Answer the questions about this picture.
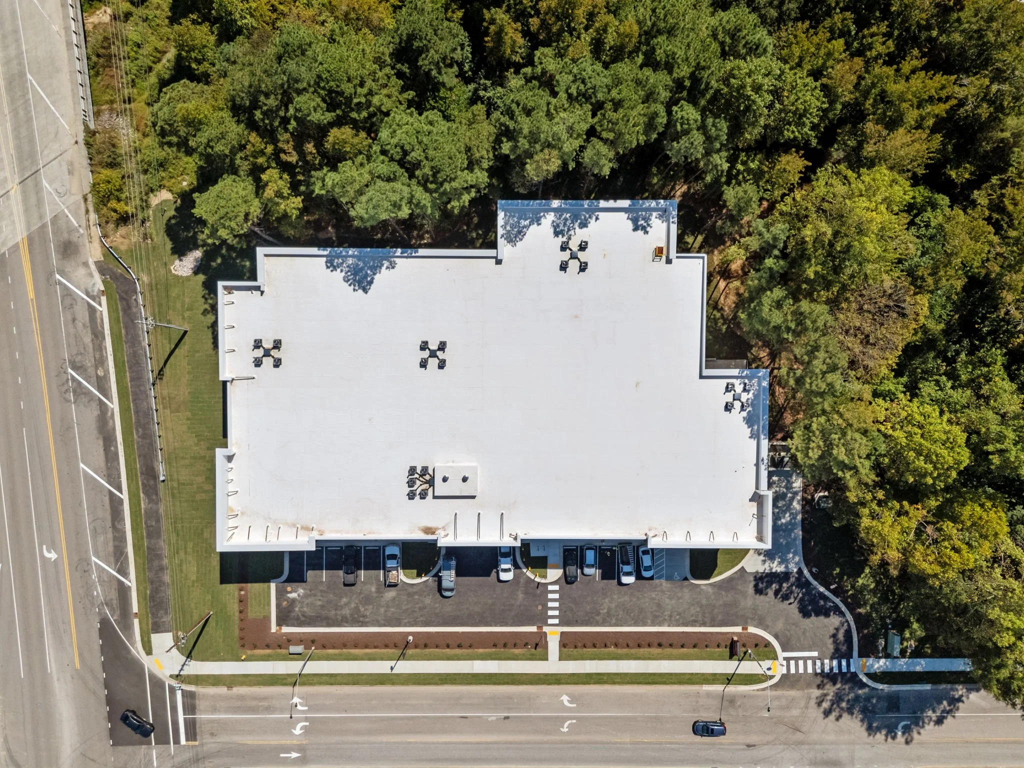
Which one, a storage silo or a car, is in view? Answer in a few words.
car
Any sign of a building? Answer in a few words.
Yes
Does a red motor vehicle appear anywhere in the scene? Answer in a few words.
No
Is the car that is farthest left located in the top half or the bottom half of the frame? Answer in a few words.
bottom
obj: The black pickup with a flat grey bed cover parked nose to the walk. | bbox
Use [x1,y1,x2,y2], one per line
[340,546,357,586]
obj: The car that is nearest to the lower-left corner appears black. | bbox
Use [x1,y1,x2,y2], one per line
[117,712,153,739]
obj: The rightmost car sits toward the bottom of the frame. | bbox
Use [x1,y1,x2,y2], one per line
[693,722,728,741]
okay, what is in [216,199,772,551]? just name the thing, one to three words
building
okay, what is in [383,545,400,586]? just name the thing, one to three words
vehicle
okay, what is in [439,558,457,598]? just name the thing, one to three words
vehicle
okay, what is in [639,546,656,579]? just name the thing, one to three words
car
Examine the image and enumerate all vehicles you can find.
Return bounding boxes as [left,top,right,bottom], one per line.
[582,545,598,577]
[563,551,579,584]
[693,722,728,741]
[497,547,514,583]
[340,546,357,586]
[383,545,400,586]
[439,558,457,598]
[619,543,638,585]
[117,712,153,739]
[639,546,656,579]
